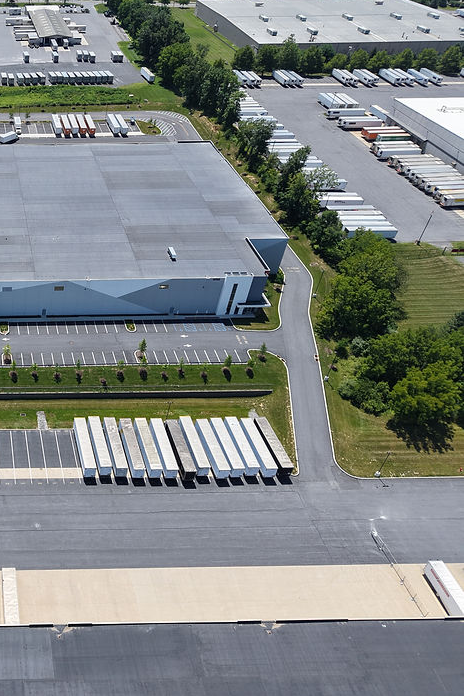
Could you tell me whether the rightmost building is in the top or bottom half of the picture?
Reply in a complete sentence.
The rightmost building sits in the top half of the picture.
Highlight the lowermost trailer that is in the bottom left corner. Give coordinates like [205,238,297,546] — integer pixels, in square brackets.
[2,568,21,624]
